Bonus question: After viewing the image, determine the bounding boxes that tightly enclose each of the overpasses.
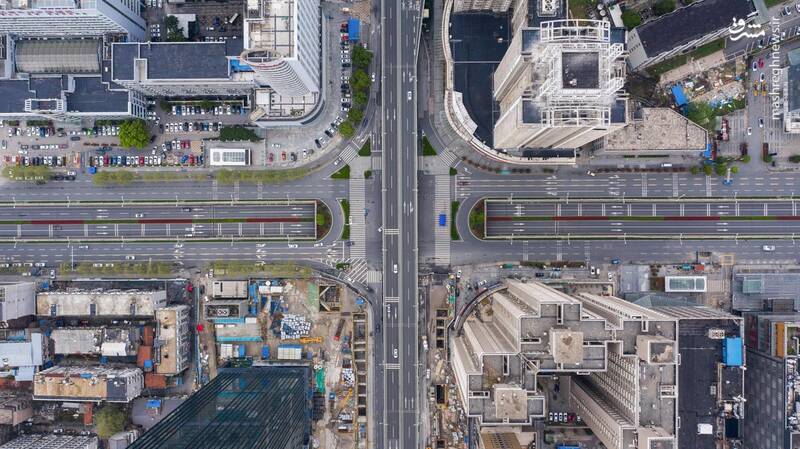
[381,0,424,449]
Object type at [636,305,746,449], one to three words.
building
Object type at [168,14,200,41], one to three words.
shed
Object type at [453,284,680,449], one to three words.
building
